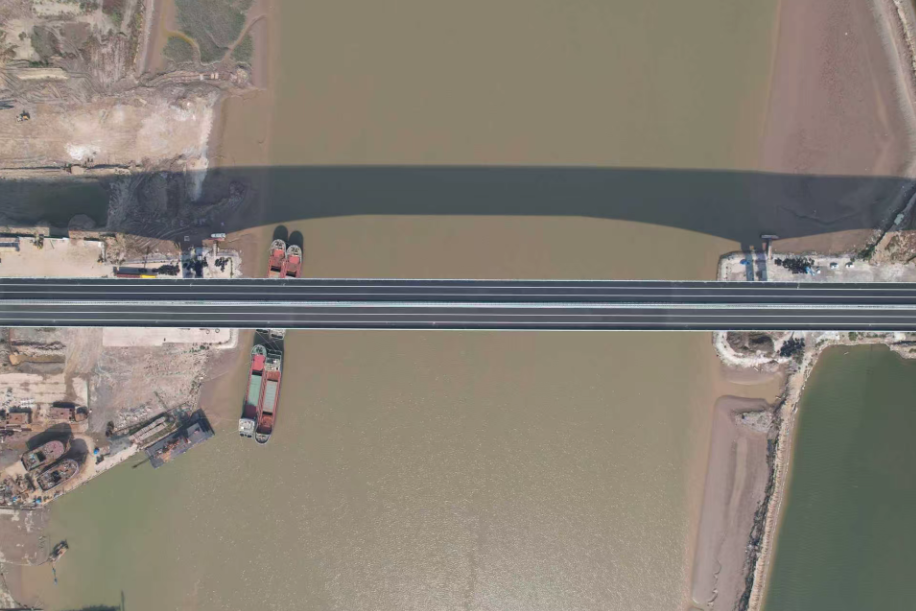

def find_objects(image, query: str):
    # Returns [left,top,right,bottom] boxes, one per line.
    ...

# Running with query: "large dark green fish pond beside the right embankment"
[763,344,916,611]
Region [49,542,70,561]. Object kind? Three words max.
boat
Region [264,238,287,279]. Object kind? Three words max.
ship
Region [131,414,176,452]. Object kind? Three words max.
ship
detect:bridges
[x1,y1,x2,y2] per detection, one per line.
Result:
[0,278,916,331]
